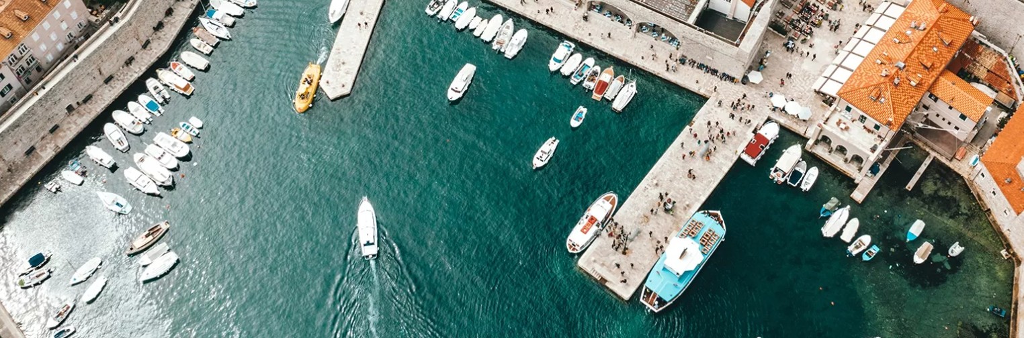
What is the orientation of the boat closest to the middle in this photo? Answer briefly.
at an angle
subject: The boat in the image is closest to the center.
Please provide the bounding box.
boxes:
[532,135,561,169]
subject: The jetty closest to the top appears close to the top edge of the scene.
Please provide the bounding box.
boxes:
[320,0,386,104]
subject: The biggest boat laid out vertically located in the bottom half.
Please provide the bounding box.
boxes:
[357,194,379,264]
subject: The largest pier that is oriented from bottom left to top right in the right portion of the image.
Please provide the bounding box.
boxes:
[579,98,768,303]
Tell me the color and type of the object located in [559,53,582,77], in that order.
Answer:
white boat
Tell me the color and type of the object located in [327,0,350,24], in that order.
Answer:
white boat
